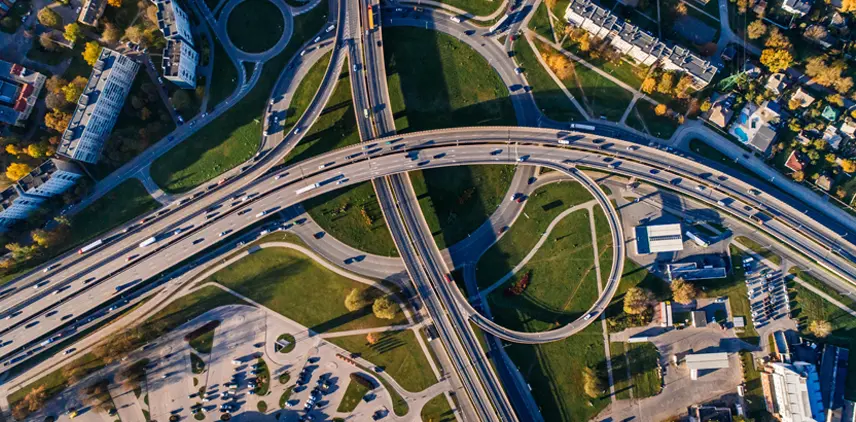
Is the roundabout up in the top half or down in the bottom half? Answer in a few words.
top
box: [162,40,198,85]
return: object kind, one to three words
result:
building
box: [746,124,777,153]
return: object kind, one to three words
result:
house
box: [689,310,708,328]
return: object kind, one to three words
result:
building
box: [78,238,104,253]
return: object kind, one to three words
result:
vehicle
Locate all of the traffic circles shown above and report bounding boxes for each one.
[218,0,293,62]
